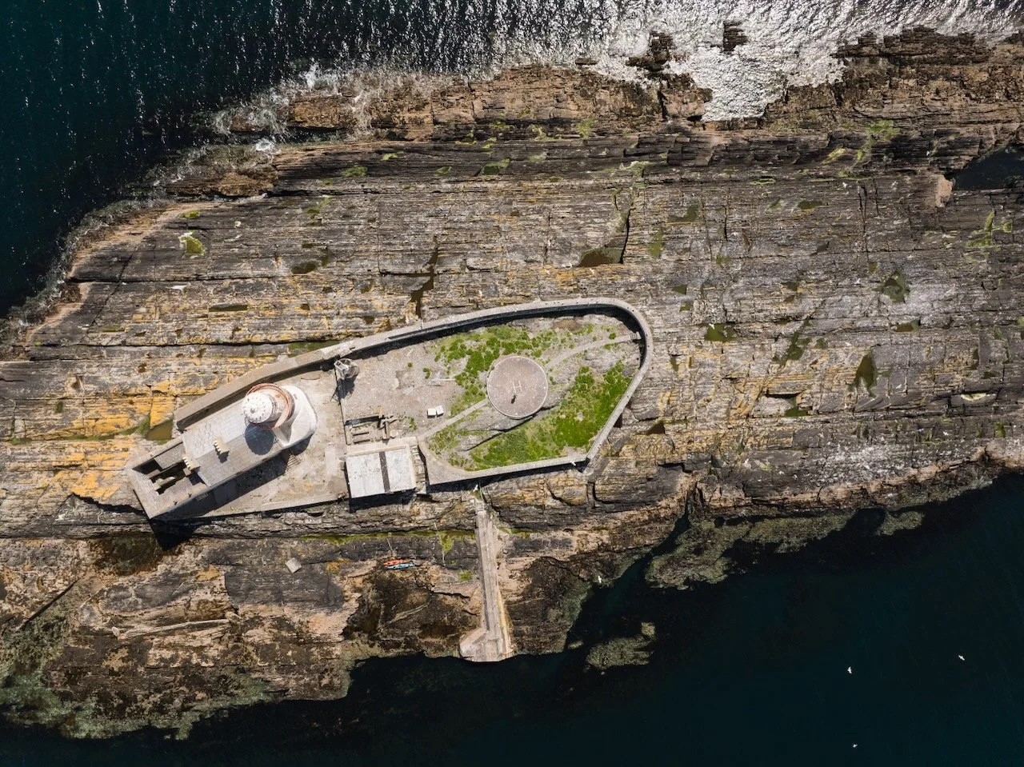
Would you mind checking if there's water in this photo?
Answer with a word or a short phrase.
Yes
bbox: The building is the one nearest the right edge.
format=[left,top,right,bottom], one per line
[336,436,419,497]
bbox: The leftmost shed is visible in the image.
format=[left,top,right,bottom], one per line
[122,438,223,519]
